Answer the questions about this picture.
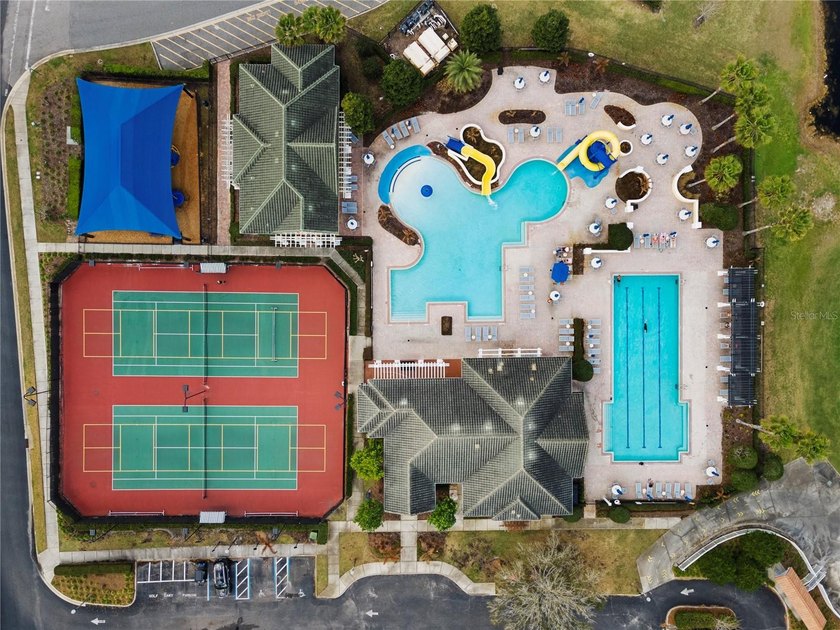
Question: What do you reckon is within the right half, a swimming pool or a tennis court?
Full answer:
It is a swimming pool that can be seen within the right half.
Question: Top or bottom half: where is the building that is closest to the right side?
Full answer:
Seen from above, the building that is closest to the right side lies in the bottom half of the view.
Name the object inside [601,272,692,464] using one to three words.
swimming pool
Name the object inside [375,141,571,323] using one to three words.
swimming pool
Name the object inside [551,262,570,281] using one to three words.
umbrella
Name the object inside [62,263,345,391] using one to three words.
tennis court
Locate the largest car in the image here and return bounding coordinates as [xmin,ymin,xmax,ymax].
[212,560,231,597]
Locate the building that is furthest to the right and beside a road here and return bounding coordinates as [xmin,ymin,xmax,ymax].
[762,548,834,630]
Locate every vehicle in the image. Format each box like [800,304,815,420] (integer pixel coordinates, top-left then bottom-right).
[194,562,209,585]
[212,560,231,597]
